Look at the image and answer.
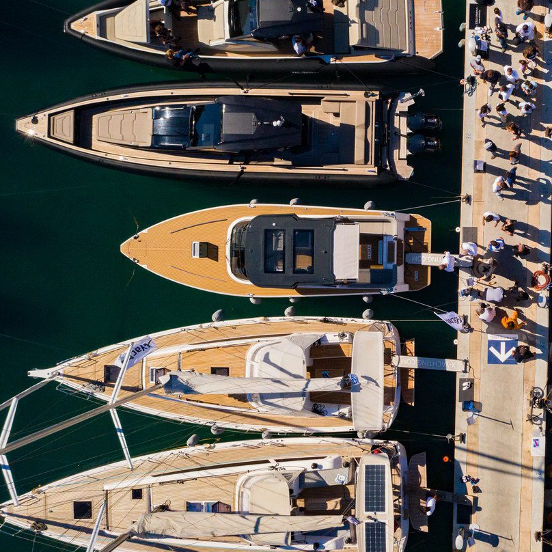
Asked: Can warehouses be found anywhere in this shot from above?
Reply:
No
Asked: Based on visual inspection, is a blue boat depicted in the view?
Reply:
No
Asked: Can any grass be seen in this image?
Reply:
No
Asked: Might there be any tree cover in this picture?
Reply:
No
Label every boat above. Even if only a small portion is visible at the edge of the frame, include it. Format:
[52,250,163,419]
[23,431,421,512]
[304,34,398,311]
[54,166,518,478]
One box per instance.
[121,203,432,298]
[0,432,429,552]
[0,315,415,506]
[11,78,441,186]
[59,0,444,75]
